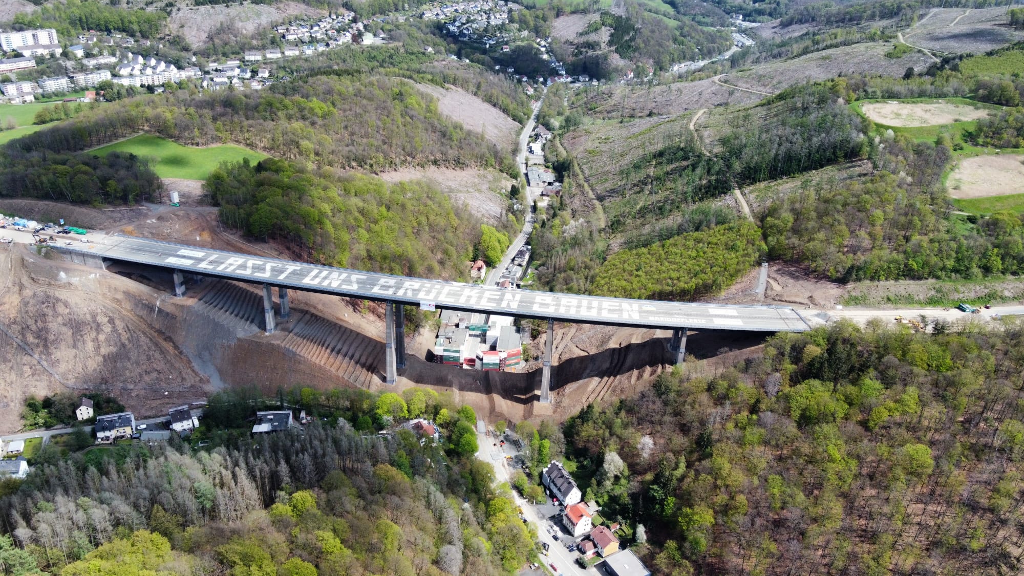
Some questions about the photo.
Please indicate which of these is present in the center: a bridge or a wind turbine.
bridge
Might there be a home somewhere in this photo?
Yes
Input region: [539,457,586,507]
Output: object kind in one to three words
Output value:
house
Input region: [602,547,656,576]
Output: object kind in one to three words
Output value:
building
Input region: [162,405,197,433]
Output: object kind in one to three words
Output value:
house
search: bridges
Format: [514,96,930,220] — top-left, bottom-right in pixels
[53,233,816,409]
